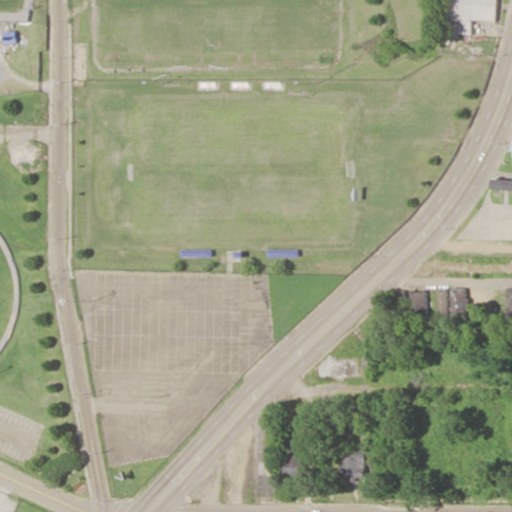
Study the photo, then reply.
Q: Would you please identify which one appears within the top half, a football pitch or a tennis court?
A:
football pitch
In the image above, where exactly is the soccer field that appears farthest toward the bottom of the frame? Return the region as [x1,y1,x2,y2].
[131,95,348,249]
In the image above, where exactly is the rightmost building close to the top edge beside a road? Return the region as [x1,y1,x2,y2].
[454,0,497,37]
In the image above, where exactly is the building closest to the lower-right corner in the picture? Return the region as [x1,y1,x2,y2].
[344,454,366,482]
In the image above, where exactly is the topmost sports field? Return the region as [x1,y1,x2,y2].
[99,0,337,63]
